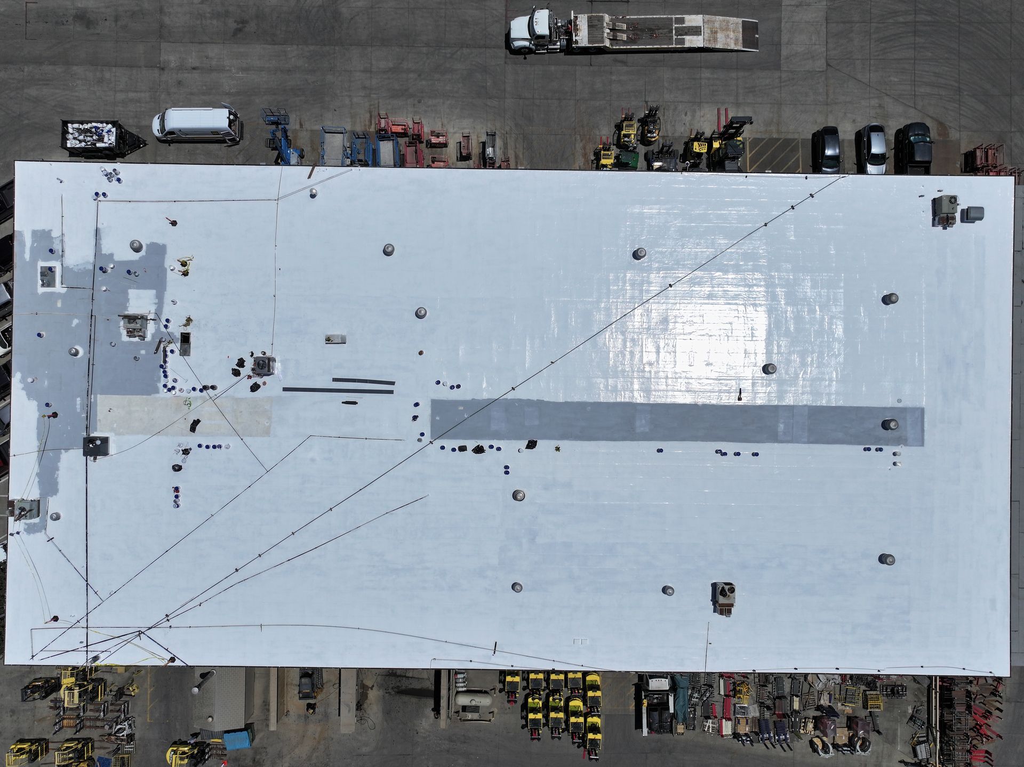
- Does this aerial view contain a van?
Yes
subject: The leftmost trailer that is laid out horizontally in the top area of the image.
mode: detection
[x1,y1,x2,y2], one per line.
[59,119,149,156]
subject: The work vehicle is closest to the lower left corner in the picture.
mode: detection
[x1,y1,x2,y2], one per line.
[2,732,57,767]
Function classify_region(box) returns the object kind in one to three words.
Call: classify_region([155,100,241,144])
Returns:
van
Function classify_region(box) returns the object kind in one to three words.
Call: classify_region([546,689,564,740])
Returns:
work vehicle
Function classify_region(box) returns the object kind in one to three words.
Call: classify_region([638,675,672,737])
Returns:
truck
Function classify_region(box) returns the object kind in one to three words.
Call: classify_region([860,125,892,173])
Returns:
car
